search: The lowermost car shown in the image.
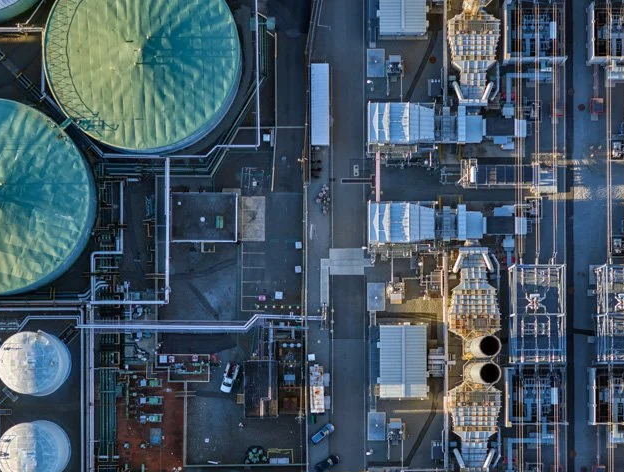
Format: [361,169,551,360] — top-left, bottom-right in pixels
[313,454,340,472]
